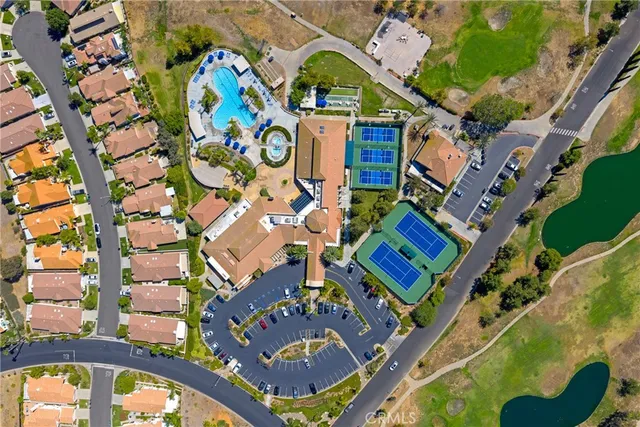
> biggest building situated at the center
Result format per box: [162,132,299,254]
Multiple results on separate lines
[203,119,347,291]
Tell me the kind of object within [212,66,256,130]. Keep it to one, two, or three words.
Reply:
swimming pool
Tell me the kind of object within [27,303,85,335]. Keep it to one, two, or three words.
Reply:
house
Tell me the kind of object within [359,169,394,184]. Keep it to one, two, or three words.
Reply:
sports court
